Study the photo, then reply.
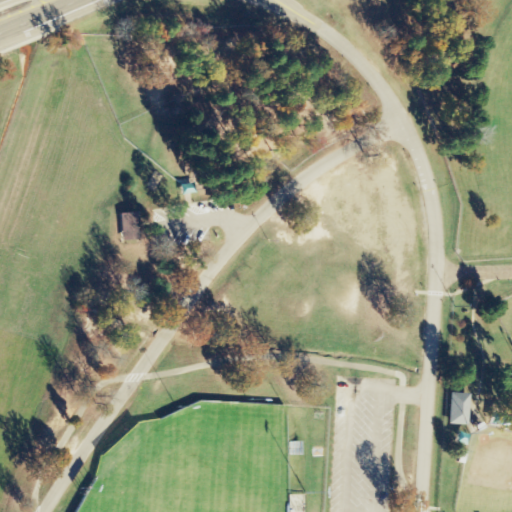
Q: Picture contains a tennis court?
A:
No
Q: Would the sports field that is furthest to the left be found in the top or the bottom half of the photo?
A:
bottom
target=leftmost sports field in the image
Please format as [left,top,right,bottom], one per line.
[74,401,287,512]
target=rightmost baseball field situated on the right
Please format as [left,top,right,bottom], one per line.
[456,428,512,512]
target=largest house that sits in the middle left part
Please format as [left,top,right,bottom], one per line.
[116,212,141,240]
